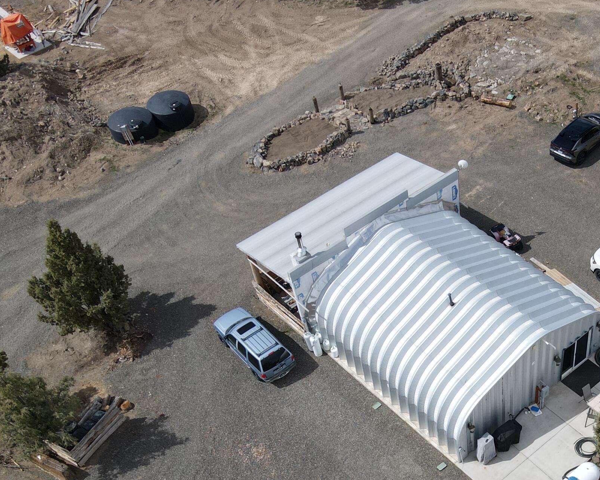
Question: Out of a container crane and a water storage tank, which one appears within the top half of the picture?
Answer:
water storage tank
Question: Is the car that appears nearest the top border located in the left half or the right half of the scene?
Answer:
right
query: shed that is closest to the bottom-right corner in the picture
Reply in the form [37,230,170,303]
[318,213,600,465]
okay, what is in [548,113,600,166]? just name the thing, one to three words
car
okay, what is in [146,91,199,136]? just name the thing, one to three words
water tank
